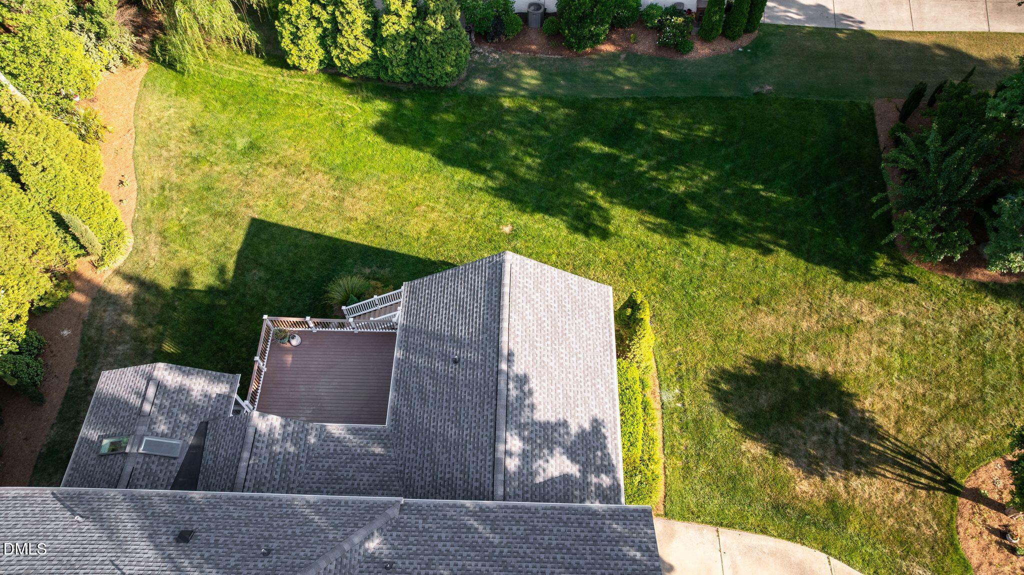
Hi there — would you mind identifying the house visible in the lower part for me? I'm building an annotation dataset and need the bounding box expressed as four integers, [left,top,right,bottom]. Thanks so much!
[0,252,665,575]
